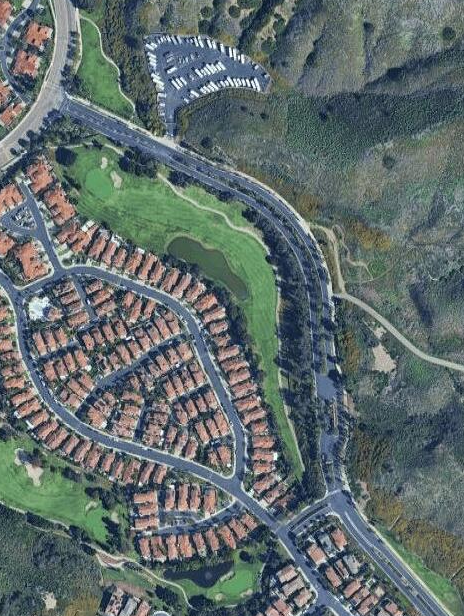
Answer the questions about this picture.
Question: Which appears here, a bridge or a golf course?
golf course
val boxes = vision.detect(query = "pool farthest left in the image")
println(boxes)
[28,297,50,320]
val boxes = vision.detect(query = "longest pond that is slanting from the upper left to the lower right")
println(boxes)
[168,237,249,302]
